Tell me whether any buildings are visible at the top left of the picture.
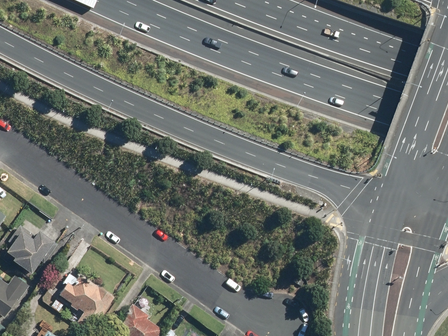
No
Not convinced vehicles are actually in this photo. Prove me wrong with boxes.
[214,306,228,318]
[244,330,256,336]
[282,66,298,77]
[329,96,344,106]
[160,270,174,282]
[329,30,340,38]
[296,323,308,336]
[36,184,50,196]
[298,308,309,322]
[135,22,150,32]
[262,292,274,298]
[204,38,220,49]
[172,315,184,329]
[105,232,120,243]
[0,189,6,198]
[76,0,96,8]
[0,119,10,130]
[224,278,239,290]
[154,229,168,240]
